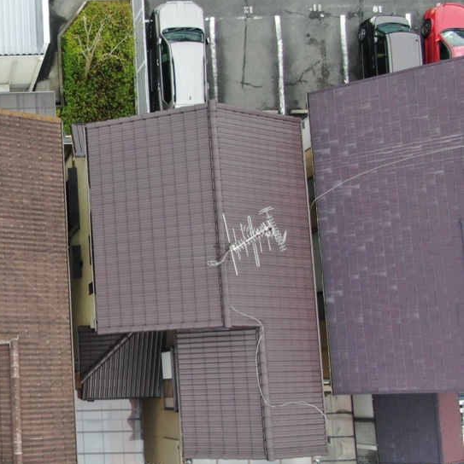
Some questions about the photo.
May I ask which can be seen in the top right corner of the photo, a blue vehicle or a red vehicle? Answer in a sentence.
You can see a red vehicle in the top right corner of the photo.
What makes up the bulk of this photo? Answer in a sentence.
Most of the picture is covered by buildings.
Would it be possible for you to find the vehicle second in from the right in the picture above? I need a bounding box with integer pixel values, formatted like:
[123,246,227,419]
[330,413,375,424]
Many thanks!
[358,14,421,77]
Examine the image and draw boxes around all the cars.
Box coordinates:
[358,14,421,77]
[418,4,464,65]
[149,3,208,113]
